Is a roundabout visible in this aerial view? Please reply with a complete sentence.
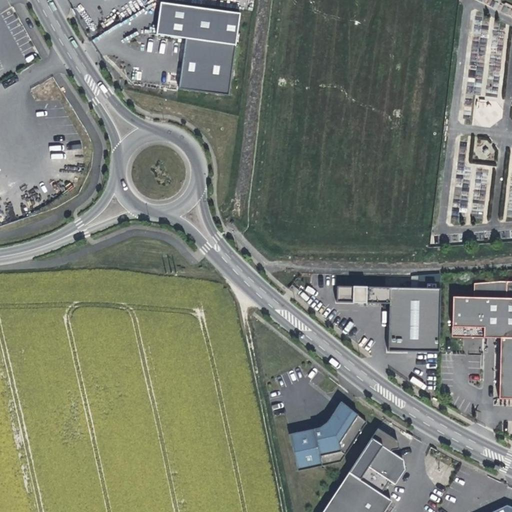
Yes, the image includes a roundabout.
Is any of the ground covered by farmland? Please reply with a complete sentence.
Yes, farmland can be seen from above here.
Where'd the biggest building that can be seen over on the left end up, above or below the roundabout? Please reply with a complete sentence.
In the image, the biggest building that can be seen over on the left appears above the roundabout.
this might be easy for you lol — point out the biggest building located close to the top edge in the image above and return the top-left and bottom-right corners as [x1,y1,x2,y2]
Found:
[158,2,240,95]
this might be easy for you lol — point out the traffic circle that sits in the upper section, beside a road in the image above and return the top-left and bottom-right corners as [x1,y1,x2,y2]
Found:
[86,96,215,246]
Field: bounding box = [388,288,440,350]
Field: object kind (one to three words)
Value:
building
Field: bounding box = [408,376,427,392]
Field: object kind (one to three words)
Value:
vehicle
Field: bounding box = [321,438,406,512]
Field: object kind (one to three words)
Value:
building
